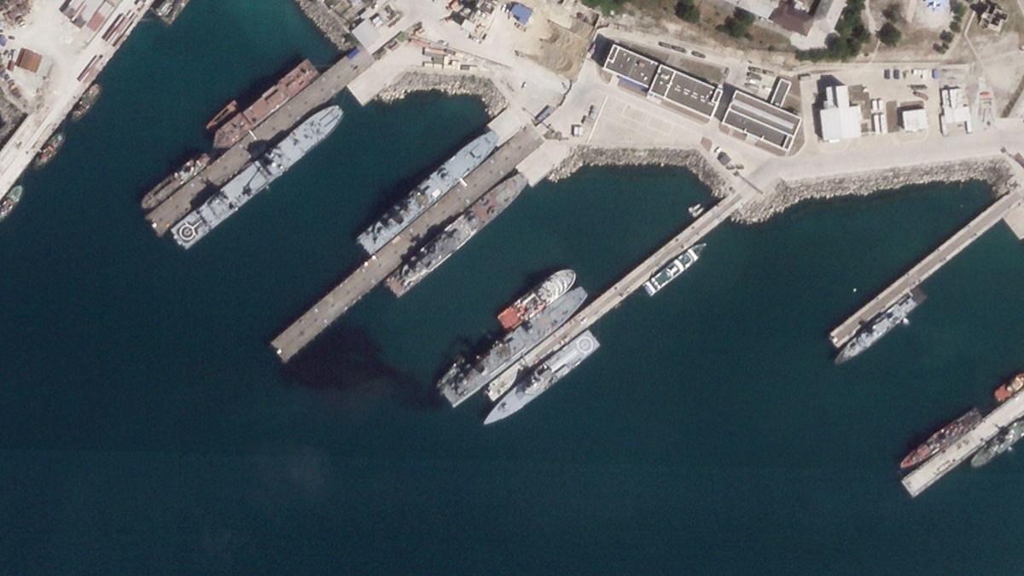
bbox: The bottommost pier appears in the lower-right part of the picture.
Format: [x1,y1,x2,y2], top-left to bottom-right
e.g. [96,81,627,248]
[902,391,1024,498]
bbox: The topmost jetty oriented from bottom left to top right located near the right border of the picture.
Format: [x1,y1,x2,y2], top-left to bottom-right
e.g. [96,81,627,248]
[830,182,1024,348]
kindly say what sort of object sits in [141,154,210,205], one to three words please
ship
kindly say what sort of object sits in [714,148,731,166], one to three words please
vehicle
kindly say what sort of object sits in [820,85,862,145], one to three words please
building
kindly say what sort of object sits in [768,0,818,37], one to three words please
house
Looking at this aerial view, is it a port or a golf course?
port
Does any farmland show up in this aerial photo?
No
